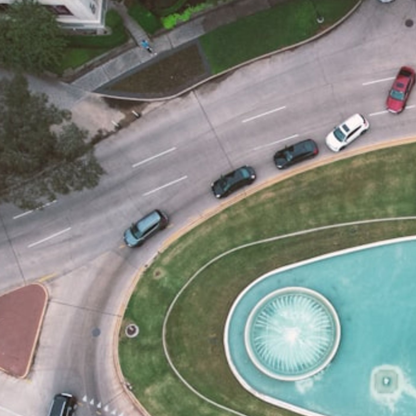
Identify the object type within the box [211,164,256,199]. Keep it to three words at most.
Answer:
car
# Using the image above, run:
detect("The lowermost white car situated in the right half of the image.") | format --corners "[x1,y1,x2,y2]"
[325,113,369,153]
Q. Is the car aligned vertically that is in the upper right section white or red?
red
